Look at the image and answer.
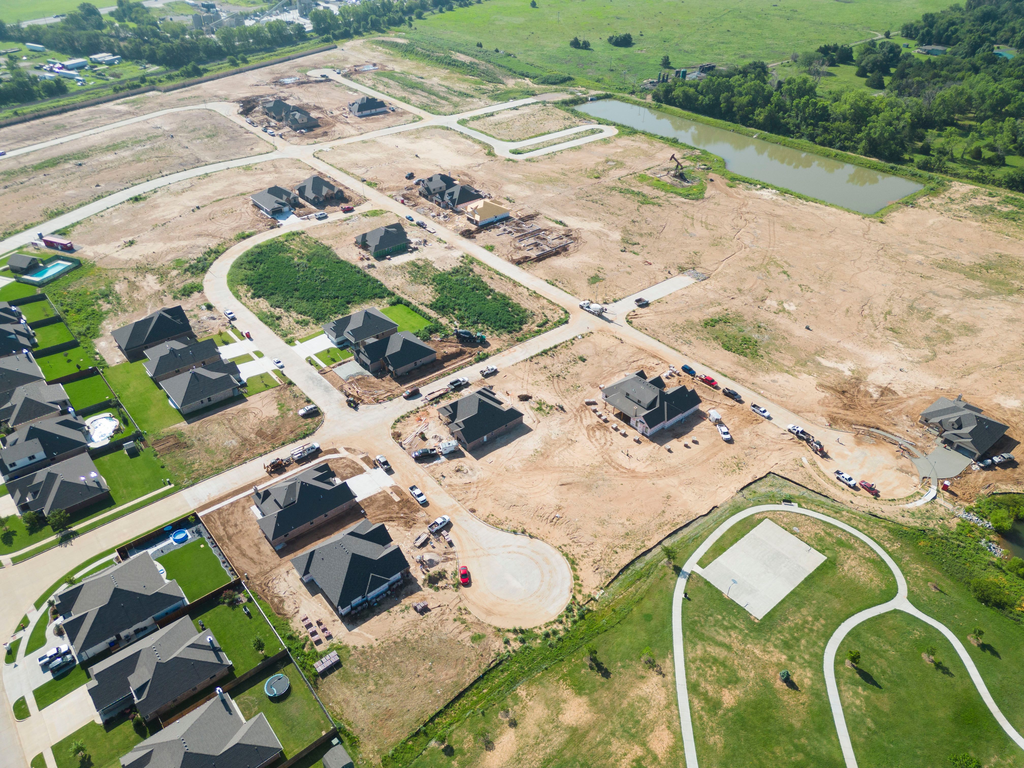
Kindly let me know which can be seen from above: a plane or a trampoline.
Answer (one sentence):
The one in the frame is a trampoline.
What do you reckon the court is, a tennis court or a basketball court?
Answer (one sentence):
In the photo, the court shows up as a basketball court.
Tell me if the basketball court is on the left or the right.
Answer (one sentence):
The basketball court sits on the right side.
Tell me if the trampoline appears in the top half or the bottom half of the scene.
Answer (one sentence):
You can find the trampoline in the bottom half.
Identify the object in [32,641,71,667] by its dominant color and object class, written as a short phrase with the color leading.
white truck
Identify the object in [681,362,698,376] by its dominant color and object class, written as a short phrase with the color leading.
blue car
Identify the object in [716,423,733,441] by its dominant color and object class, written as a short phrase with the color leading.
white vehicle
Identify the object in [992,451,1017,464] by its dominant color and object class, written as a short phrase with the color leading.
gray vehicle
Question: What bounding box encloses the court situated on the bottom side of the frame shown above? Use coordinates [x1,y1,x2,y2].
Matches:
[693,519,827,620]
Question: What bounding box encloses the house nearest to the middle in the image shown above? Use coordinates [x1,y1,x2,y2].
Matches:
[433,386,525,451]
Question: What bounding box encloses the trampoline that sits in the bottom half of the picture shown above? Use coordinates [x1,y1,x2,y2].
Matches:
[262,672,290,698]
